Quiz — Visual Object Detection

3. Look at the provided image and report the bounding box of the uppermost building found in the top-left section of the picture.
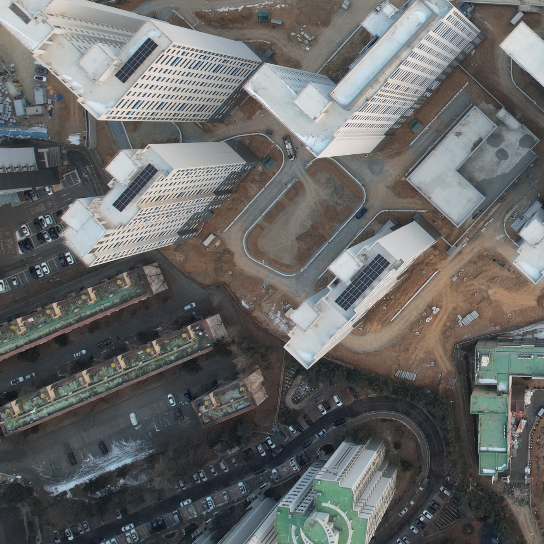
[0,0,272,125]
